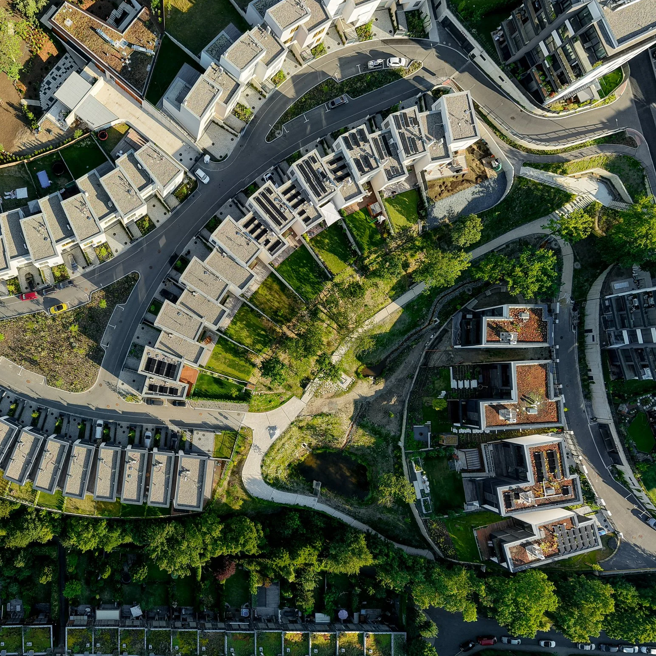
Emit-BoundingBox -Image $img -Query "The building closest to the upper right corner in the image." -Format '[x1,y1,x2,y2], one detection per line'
[487,0,656,111]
